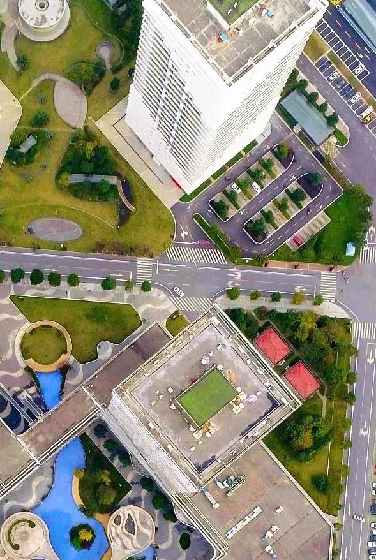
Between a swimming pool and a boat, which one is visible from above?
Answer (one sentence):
There is a swimming pool in the scene.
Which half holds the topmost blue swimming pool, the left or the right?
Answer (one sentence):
The topmost blue swimming pool appears in the left half of the scene.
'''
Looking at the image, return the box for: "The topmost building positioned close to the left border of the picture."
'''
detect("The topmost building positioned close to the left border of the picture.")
[13,0,71,44]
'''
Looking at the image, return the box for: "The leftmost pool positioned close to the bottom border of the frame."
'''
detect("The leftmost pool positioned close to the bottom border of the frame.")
[30,440,110,560]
